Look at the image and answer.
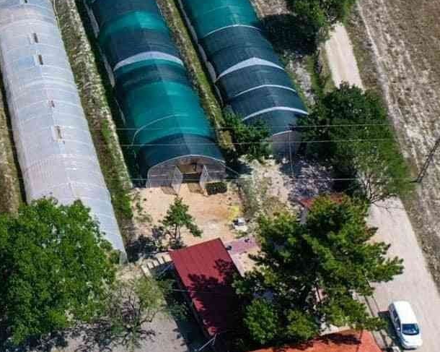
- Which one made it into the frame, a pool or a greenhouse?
greenhouse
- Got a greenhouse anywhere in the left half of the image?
Yes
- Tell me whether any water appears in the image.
No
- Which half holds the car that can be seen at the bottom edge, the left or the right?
right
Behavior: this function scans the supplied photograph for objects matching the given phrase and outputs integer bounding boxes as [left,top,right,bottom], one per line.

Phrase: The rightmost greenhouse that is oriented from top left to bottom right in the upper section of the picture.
[181,0,325,156]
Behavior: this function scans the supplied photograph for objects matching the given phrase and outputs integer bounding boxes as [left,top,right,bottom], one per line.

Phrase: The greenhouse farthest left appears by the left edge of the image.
[0,0,132,264]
